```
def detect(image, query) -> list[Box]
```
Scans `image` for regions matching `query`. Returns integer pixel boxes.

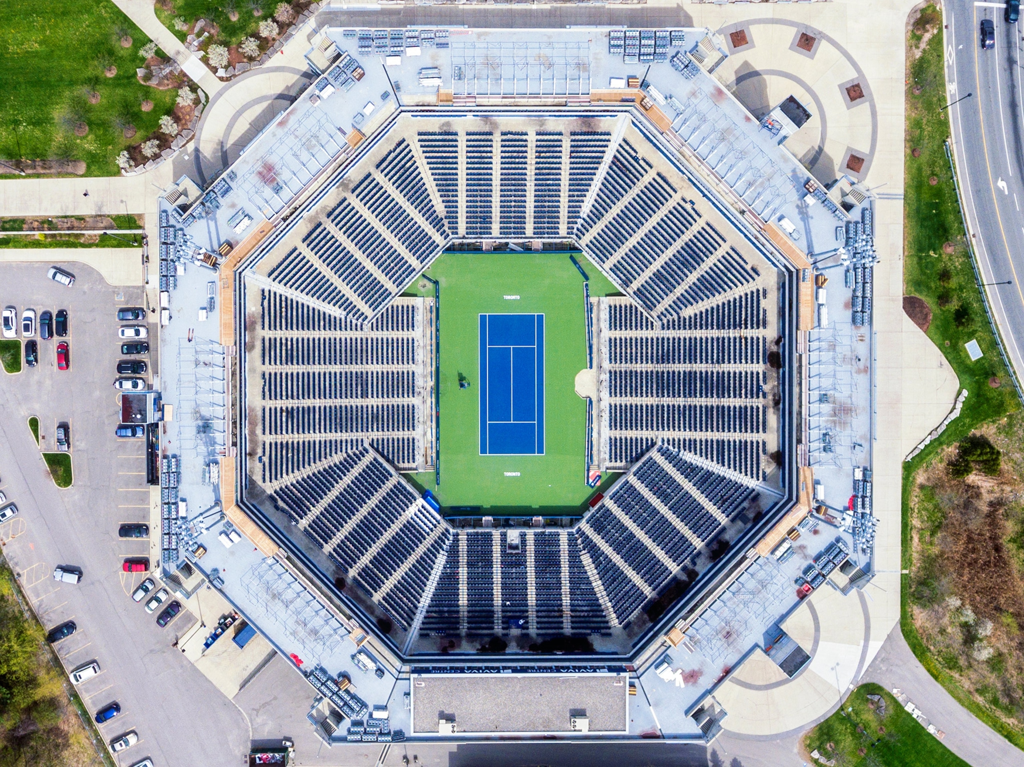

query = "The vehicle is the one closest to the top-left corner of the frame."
[46,267,78,286]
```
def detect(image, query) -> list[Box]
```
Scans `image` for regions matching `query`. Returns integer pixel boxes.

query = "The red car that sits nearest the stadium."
[122,559,151,574]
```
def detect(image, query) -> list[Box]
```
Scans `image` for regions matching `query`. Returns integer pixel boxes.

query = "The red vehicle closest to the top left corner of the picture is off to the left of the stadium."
[55,341,70,371]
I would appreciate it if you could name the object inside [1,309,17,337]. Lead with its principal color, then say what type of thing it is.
white car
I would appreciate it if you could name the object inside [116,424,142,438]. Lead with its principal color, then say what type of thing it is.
blue car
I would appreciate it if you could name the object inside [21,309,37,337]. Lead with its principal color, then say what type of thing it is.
white car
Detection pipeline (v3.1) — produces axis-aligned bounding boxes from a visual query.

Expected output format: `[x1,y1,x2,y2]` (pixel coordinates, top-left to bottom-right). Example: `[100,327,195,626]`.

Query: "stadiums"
[155,24,872,746]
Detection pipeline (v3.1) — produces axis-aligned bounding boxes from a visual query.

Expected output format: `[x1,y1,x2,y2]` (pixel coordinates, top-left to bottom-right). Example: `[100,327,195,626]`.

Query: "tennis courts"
[398,240,629,528]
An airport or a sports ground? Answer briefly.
sports ground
